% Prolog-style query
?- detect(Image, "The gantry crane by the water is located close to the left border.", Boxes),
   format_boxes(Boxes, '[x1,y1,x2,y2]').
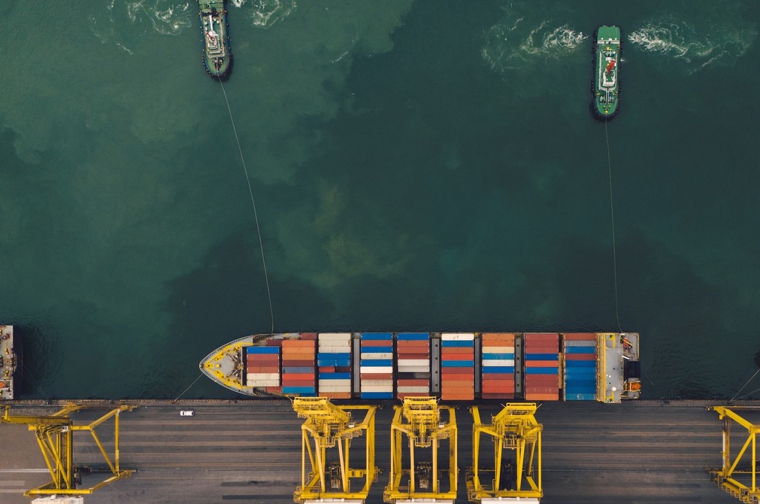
[0,405,133,504]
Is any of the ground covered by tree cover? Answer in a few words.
No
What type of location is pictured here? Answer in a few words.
port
